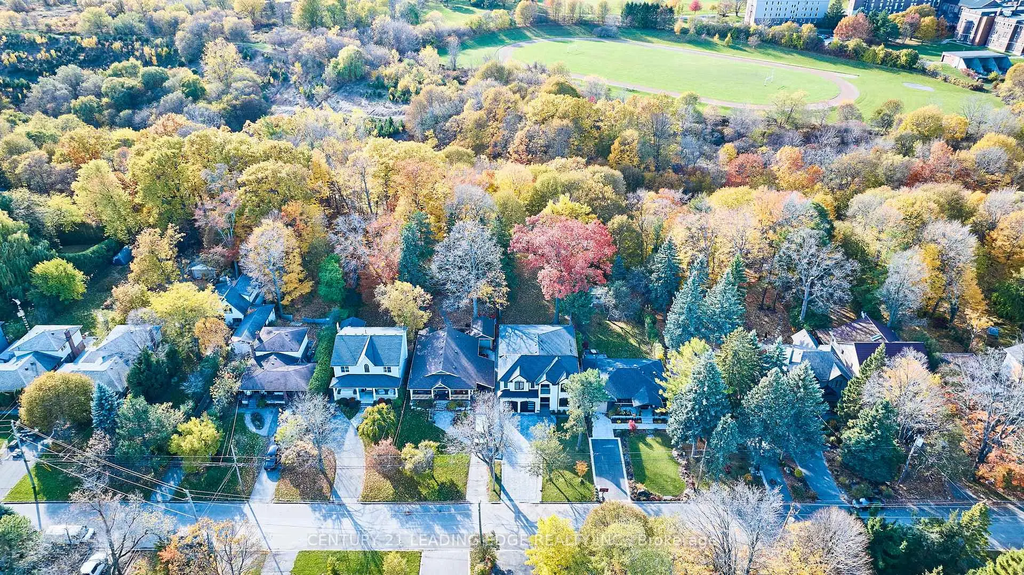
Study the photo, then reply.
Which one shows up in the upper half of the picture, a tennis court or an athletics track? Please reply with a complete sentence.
What appears in the upper half of the picture is an athletics track.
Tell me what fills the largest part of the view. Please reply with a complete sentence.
What you mostly see from above here is trees.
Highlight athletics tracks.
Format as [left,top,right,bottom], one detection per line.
[497,37,860,109]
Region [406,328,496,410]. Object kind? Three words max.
house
